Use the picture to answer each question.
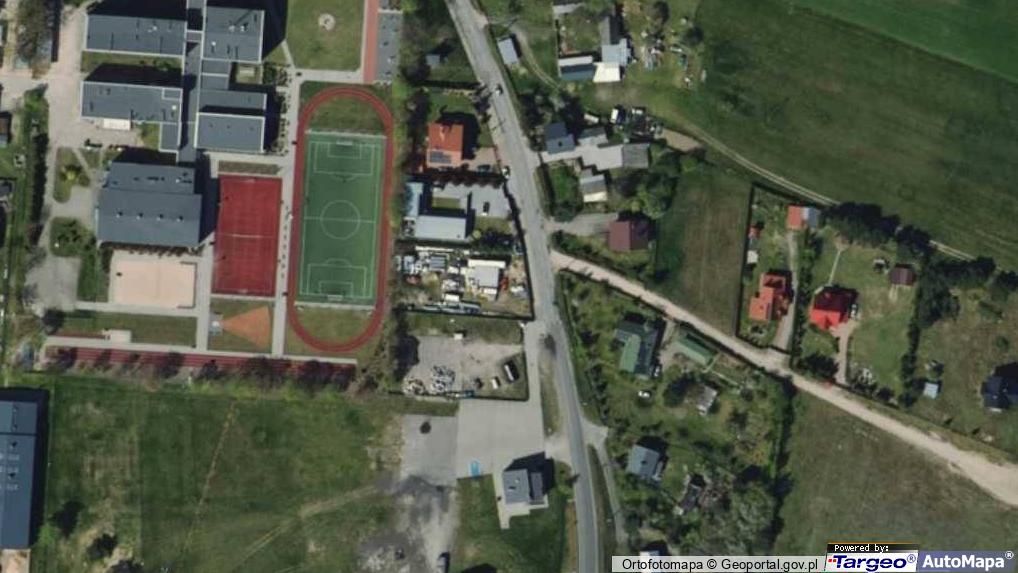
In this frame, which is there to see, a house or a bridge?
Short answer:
house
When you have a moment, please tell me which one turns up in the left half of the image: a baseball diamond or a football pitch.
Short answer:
football pitch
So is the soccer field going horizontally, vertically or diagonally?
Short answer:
vertically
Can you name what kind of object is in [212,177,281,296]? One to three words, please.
sports court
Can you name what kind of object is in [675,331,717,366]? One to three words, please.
shed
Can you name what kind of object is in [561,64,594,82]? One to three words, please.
barn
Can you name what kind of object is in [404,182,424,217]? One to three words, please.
building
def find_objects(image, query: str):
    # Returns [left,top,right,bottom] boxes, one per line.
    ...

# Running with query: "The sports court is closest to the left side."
[108,249,203,310]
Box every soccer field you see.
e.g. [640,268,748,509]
[294,125,388,310]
